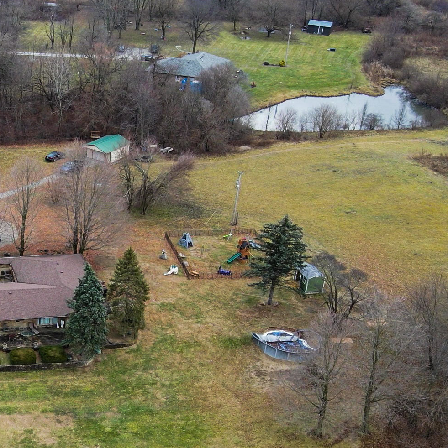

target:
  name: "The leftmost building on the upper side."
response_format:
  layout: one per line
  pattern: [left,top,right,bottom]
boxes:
[84,129,133,163]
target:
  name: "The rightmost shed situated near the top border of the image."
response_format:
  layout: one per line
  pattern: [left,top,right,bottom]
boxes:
[308,19,334,35]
